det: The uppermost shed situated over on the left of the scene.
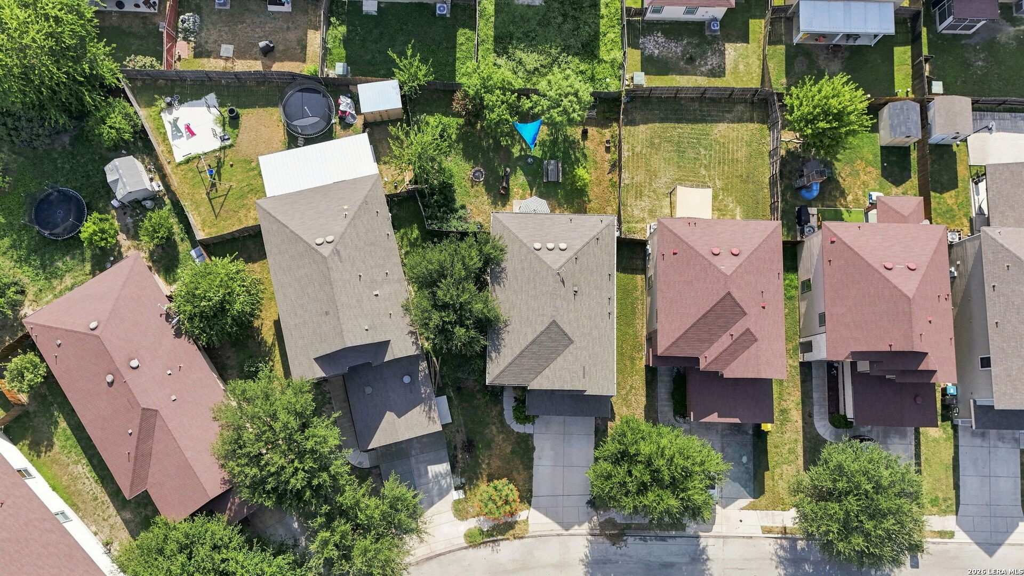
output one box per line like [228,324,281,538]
[357,80,403,123]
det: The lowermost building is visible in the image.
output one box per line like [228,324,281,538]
[0,430,123,576]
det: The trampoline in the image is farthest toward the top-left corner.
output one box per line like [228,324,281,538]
[21,182,90,243]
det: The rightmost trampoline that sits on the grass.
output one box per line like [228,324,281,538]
[276,78,338,144]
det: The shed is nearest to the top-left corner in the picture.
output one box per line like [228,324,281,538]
[104,156,161,203]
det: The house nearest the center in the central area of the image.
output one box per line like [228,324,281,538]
[484,210,618,417]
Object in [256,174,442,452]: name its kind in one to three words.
house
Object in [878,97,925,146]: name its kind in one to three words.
shed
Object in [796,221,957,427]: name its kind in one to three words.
house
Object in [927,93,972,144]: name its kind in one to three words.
shed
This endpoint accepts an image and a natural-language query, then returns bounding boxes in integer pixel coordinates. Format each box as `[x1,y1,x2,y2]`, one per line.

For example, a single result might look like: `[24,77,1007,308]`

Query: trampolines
[21,182,90,243]
[276,78,338,144]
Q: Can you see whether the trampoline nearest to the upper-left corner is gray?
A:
No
